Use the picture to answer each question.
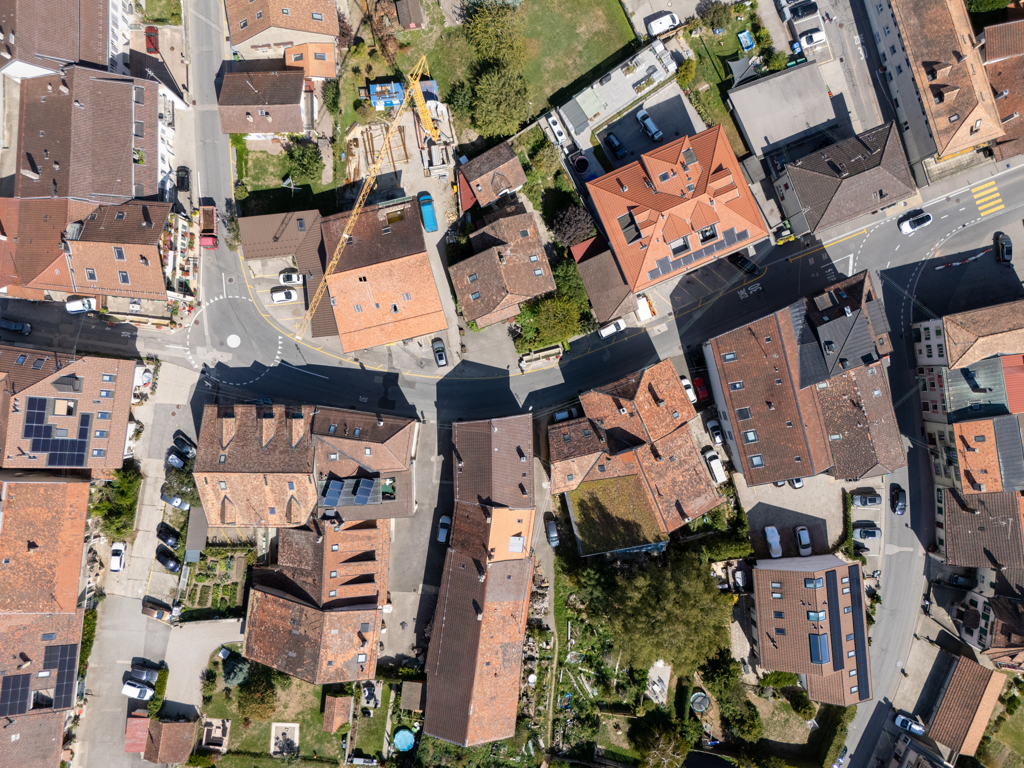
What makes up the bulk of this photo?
buildings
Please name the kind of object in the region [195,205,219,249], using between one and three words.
truck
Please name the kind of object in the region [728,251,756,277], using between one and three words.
car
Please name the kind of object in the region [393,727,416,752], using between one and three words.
swimming pool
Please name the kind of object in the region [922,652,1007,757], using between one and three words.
building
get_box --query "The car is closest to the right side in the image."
[995,234,1014,265]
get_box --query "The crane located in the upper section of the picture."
[294,55,452,339]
